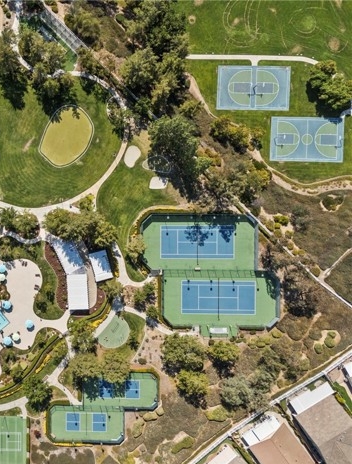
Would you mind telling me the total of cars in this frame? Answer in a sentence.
The picture shows no cars.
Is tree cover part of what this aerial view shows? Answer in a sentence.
Yes, there's tree cover in this view.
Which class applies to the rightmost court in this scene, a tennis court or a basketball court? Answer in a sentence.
The rightmost court in the image is a basketball court.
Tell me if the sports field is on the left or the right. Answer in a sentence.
You can find the sports field on the right side of the picture.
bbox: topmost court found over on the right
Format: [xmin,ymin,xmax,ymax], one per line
[215,64,292,111]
